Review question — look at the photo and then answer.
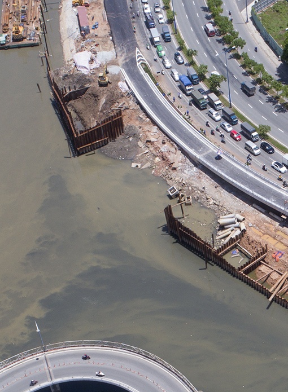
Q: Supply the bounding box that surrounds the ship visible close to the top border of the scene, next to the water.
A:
[0,0,43,51]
